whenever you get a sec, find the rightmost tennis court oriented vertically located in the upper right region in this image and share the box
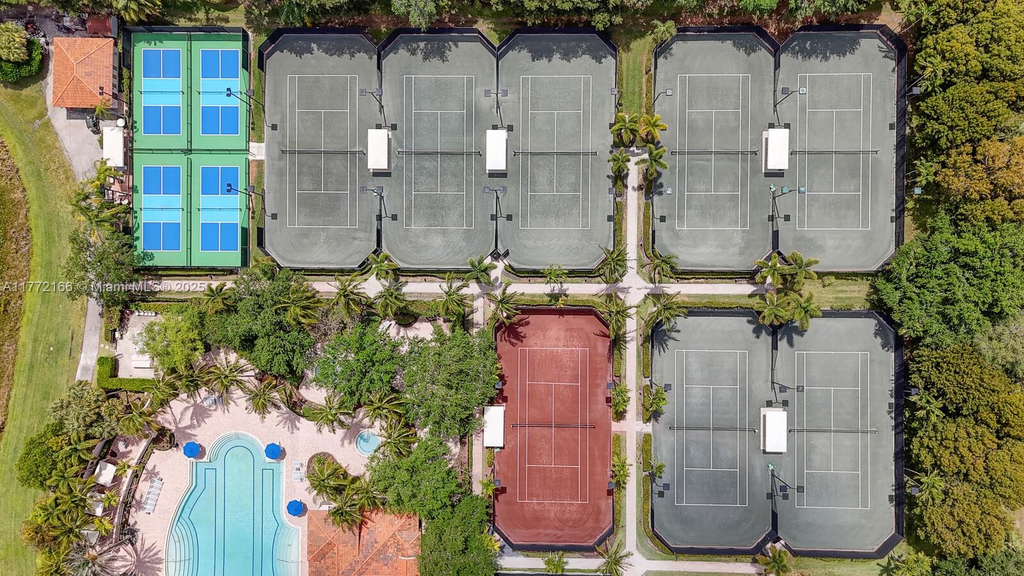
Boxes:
[778,31,896,271]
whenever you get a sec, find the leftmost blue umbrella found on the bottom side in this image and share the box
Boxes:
[184,442,201,458]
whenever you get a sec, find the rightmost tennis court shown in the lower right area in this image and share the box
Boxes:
[777,311,895,551]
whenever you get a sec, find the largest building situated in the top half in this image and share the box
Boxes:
[52,37,120,108]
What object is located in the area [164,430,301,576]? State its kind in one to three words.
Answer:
swimming pool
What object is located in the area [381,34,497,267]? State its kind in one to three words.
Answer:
tennis court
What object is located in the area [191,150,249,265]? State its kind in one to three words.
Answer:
sports court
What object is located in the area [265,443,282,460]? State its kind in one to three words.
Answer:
umbrella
